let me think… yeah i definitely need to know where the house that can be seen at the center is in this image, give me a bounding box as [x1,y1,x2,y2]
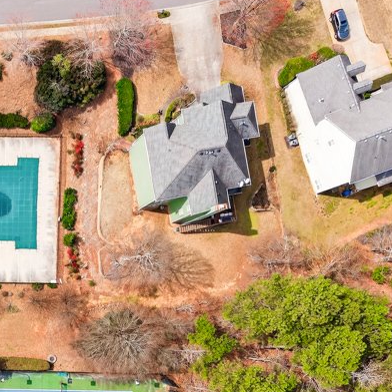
[131,84,260,234]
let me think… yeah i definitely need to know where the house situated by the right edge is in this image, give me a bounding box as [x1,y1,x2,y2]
[284,54,392,194]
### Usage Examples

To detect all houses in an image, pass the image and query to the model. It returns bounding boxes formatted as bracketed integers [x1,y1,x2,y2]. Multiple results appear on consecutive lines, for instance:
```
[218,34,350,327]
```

[131,84,260,234]
[284,54,392,194]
